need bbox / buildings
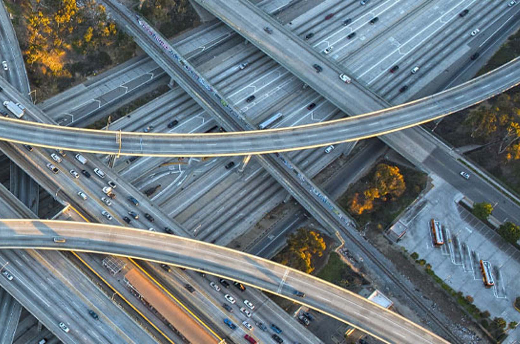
[367,290,394,309]
[386,220,407,244]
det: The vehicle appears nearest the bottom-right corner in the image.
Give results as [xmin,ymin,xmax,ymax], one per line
[479,260,493,288]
